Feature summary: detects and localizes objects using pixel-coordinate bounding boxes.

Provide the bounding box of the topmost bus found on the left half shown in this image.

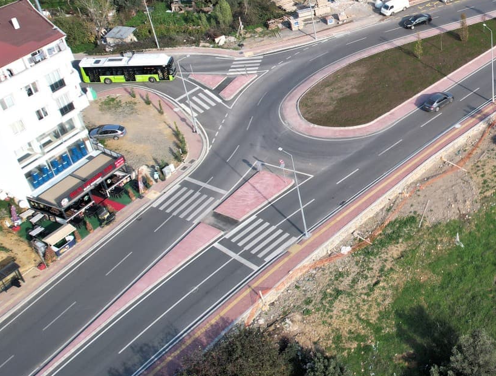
[79,51,174,82]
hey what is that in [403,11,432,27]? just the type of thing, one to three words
car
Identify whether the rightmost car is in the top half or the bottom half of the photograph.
top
